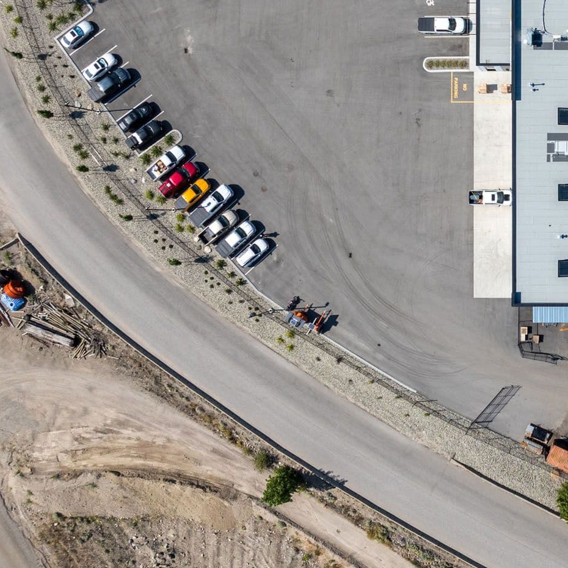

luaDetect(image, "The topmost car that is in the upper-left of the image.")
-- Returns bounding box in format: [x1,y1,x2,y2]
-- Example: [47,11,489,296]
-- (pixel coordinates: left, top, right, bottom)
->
[56,19,93,50]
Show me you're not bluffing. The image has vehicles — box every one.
[233,236,268,268]
[172,175,214,212]
[288,298,298,311]
[141,142,187,181]
[195,206,240,246]
[56,19,93,50]
[468,189,512,206]
[155,159,200,198]
[211,217,257,258]
[418,14,464,33]
[79,50,116,81]
[82,64,131,103]
[119,117,165,153]
[186,185,233,226]
[111,99,156,134]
